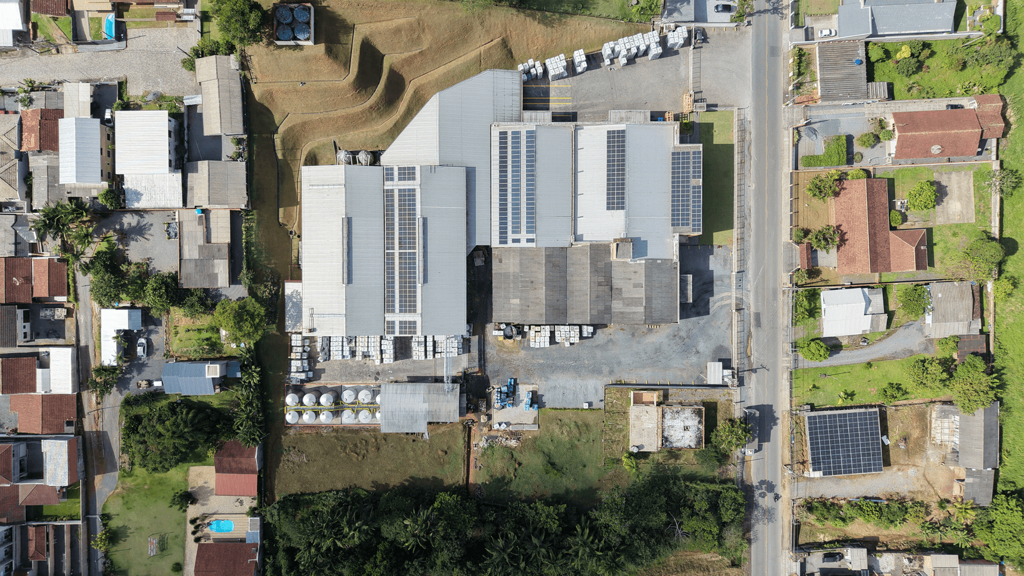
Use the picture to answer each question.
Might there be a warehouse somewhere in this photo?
Yes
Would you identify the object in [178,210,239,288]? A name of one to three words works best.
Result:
building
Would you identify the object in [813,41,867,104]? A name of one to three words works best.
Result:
barn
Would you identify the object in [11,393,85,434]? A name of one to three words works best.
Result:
house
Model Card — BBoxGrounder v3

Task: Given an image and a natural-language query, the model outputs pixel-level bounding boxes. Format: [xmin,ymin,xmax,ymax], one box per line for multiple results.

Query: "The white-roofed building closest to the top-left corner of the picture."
[0,2,37,51]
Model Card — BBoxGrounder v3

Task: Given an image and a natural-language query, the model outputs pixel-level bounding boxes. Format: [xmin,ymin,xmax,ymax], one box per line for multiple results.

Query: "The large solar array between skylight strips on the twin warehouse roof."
[386,166,417,335]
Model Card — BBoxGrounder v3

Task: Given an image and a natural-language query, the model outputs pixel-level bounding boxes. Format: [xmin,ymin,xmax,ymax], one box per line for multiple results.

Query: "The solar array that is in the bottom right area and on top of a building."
[806,410,883,476]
